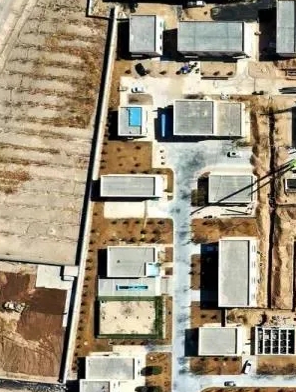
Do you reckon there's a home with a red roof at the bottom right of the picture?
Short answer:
No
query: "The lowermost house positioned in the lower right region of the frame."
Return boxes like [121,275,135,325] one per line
[198,325,242,355]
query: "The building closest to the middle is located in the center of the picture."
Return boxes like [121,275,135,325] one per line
[100,175,161,196]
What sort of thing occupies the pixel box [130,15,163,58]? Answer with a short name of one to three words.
building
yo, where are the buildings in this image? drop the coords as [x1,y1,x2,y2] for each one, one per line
[63,266,79,277]
[198,325,242,355]
[100,175,161,196]
[210,175,257,203]
[130,15,163,58]
[174,100,248,139]
[98,278,165,295]
[219,237,257,307]
[177,21,249,57]
[106,246,162,277]
[119,106,147,136]
[79,355,142,392]
[276,0,296,59]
